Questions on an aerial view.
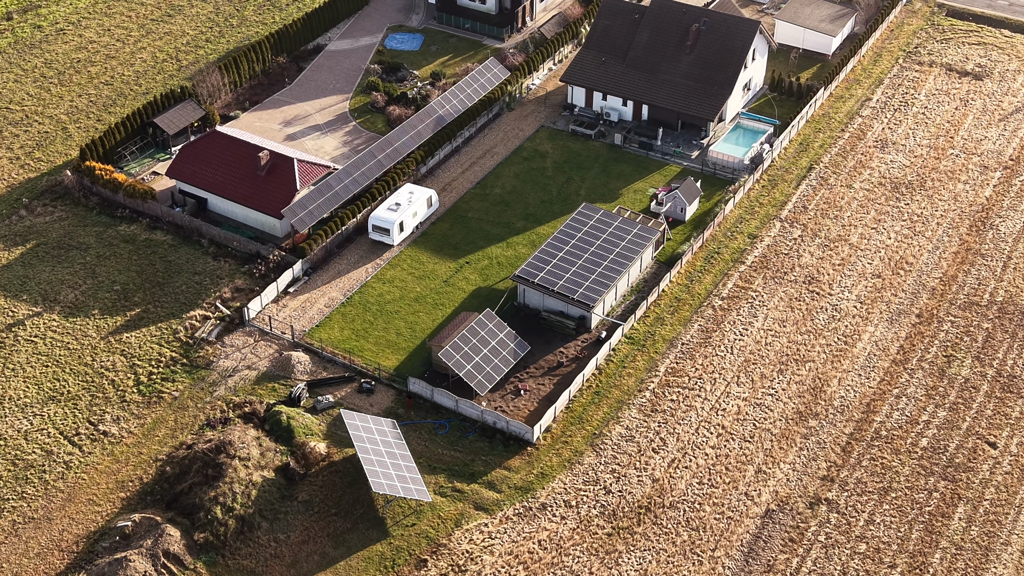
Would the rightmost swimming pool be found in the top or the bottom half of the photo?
top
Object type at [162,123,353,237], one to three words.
building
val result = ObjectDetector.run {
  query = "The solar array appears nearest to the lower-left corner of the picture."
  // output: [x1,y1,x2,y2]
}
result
[340,411,431,515]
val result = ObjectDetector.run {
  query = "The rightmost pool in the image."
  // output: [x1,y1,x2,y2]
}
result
[707,113,774,170]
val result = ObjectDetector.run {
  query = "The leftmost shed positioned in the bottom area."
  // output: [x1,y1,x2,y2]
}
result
[425,318,474,377]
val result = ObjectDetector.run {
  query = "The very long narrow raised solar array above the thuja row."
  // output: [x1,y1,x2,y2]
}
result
[282,55,508,235]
